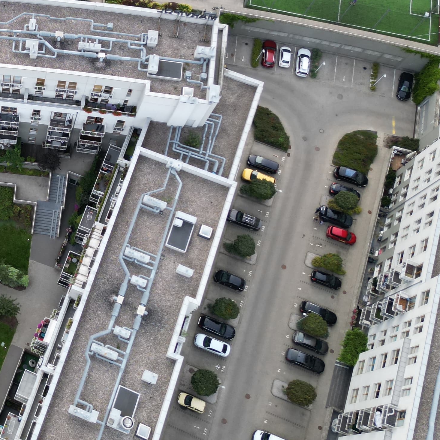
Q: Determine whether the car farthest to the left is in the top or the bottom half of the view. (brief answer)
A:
bottom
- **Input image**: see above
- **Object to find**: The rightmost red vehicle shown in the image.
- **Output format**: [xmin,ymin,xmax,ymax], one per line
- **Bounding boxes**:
[325,226,357,246]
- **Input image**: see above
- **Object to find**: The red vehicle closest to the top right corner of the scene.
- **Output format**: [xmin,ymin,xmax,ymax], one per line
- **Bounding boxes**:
[261,41,278,69]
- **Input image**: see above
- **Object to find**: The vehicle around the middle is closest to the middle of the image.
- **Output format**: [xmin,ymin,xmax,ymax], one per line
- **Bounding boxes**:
[227,209,263,231]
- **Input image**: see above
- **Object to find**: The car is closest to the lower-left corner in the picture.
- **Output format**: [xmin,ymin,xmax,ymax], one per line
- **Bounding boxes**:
[176,393,208,415]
